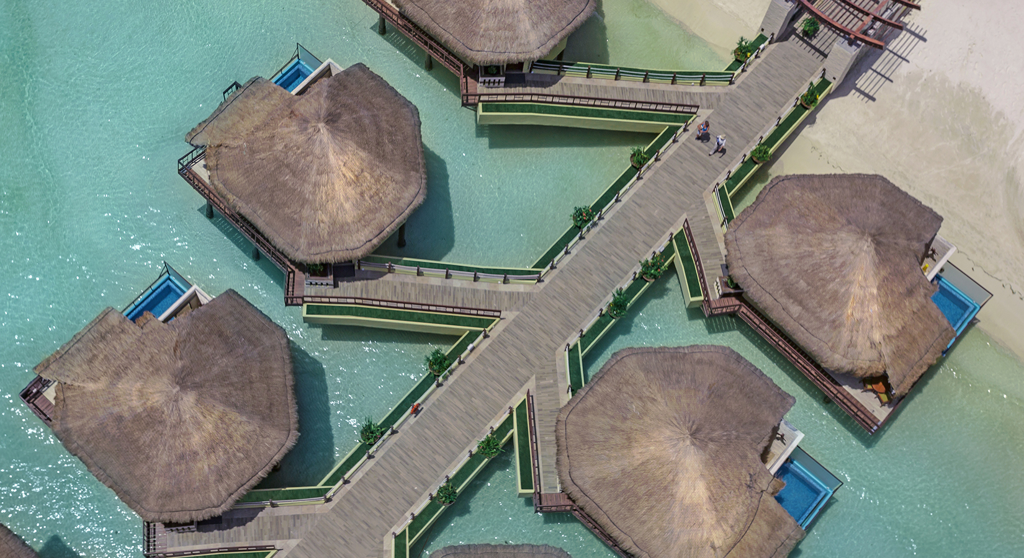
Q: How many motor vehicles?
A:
0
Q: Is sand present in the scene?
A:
Yes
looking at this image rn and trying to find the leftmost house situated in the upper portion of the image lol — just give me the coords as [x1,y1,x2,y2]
[179,60,430,306]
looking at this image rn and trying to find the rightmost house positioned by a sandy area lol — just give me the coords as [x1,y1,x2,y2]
[707,173,956,437]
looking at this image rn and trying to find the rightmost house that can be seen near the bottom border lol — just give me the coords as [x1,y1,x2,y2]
[538,343,808,558]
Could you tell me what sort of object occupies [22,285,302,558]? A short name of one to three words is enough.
house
